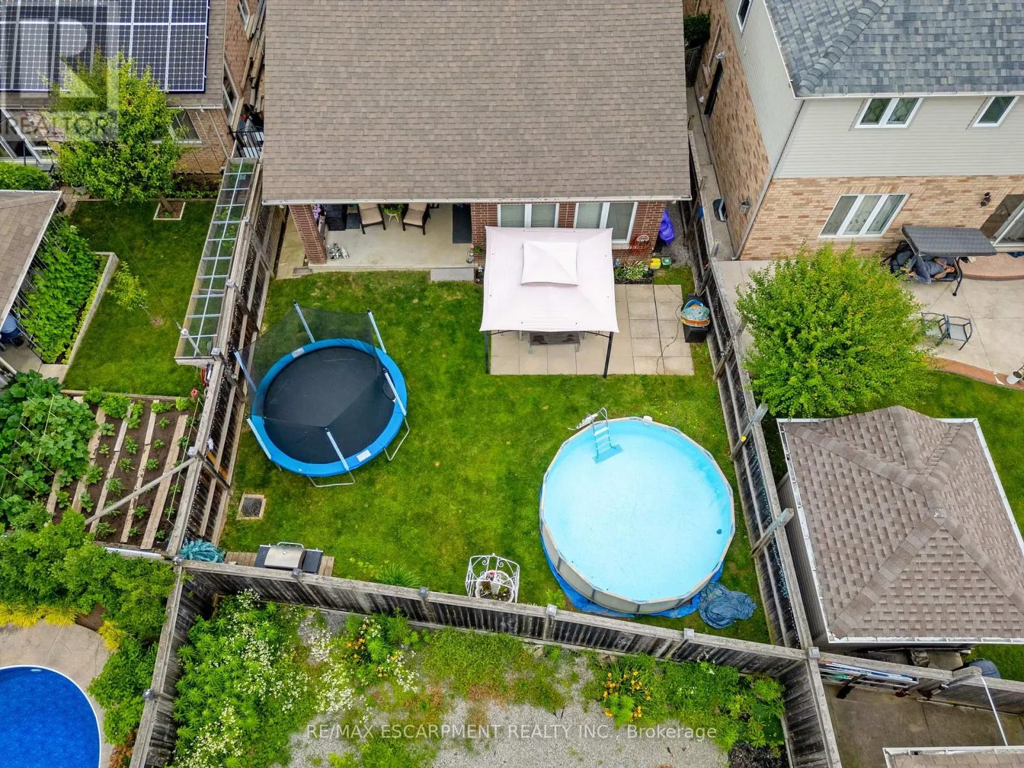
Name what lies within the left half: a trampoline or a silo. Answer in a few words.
trampoline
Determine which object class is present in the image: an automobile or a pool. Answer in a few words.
pool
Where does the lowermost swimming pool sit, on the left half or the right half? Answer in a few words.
left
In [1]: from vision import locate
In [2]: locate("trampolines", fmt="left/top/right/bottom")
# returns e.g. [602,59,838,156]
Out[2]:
[233,301,409,490]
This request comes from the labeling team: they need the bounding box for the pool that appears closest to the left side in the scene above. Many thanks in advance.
[0,665,102,768]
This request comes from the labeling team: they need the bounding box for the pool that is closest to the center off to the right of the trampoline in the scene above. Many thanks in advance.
[538,416,735,615]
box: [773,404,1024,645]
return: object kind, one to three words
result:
building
